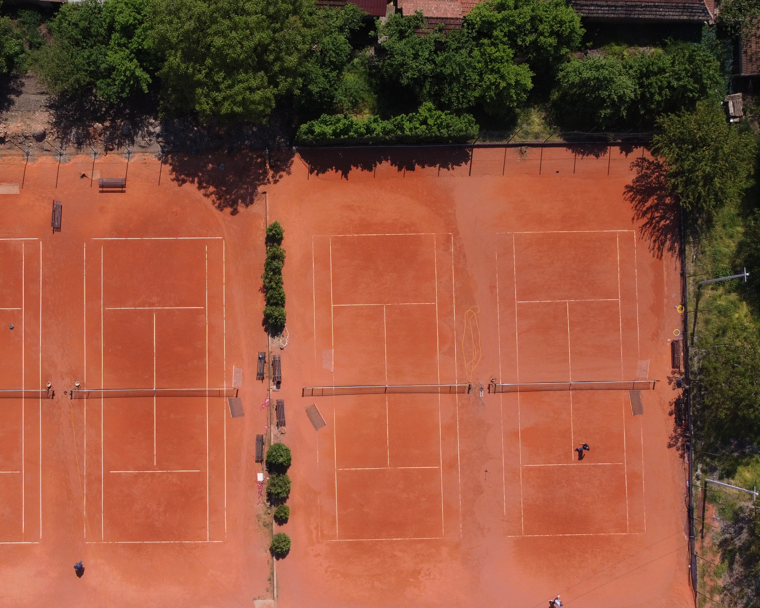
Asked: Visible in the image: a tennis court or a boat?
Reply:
tennis court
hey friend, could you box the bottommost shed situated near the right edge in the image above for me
[714,89,743,121]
